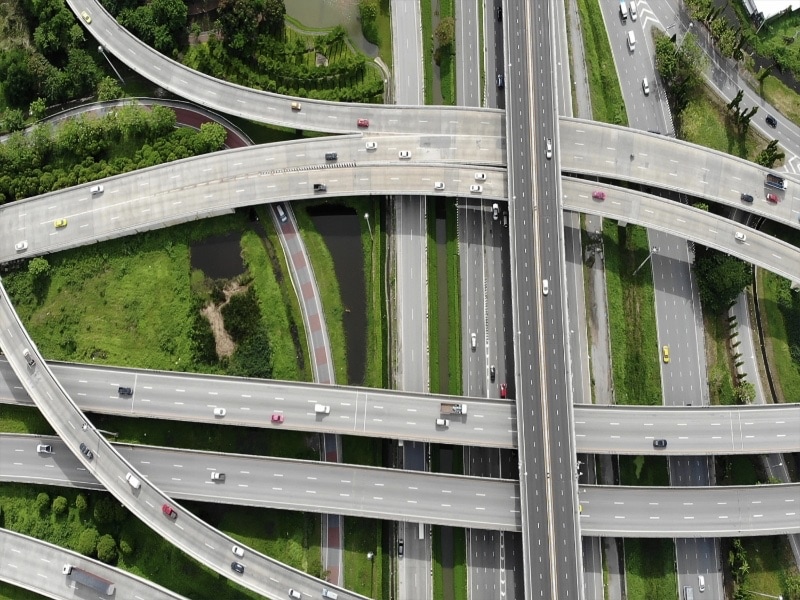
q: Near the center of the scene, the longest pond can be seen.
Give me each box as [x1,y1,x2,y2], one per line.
[306,196,369,388]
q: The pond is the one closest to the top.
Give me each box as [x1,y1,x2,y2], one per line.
[284,0,380,59]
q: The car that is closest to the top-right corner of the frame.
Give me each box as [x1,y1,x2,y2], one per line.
[764,115,778,127]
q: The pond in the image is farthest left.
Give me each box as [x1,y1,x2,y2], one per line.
[189,231,246,284]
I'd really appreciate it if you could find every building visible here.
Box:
[314,52,327,69]
[738,0,800,23]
